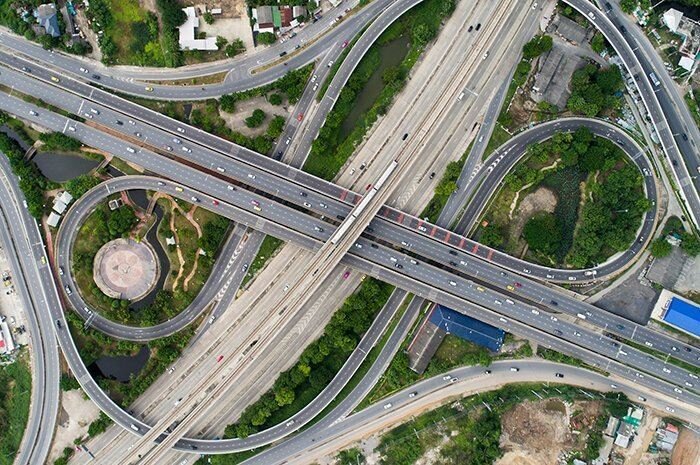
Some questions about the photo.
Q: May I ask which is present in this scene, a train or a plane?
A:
train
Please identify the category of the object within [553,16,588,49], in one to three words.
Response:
building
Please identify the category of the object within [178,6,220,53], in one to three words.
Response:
building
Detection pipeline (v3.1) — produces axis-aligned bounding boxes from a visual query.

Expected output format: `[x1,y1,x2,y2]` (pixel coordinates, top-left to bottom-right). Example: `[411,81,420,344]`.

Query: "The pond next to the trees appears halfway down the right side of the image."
[543,165,586,264]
